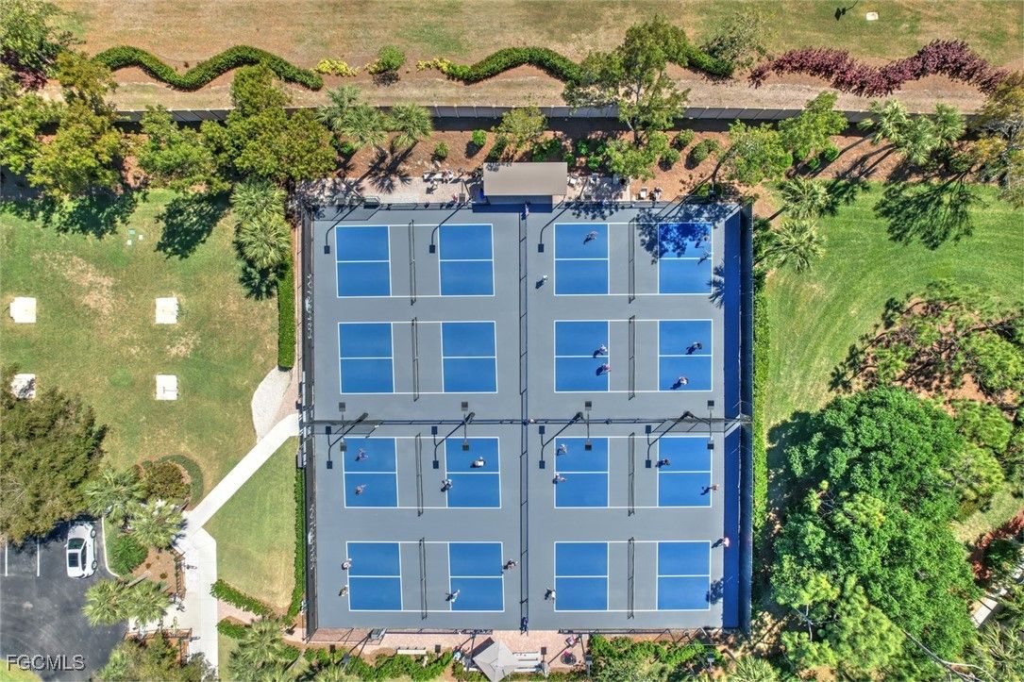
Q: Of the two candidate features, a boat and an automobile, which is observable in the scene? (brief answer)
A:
automobile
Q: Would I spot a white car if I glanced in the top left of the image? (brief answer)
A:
No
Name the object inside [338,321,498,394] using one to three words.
sports court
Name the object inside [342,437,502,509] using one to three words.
sports court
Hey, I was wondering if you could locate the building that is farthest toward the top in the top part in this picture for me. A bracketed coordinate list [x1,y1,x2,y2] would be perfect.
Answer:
[483,161,569,200]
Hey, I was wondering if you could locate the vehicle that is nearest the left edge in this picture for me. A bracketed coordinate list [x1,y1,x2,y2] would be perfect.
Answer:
[65,523,95,579]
